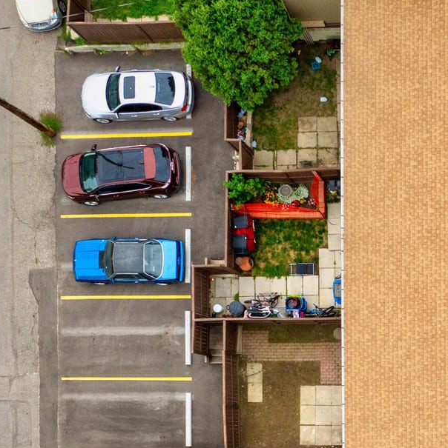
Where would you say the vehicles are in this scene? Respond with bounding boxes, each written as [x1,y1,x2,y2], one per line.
[73,233,185,282]
[63,145,182,203]
[15,0,68,36]
[82,67,194,122]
